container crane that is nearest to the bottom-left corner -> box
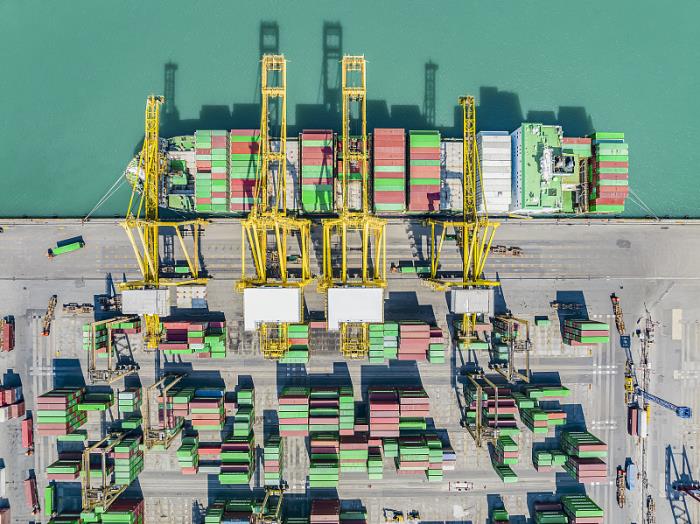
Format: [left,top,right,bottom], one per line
[82,428,134,512]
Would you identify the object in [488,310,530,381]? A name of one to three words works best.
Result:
container crane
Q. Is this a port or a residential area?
port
